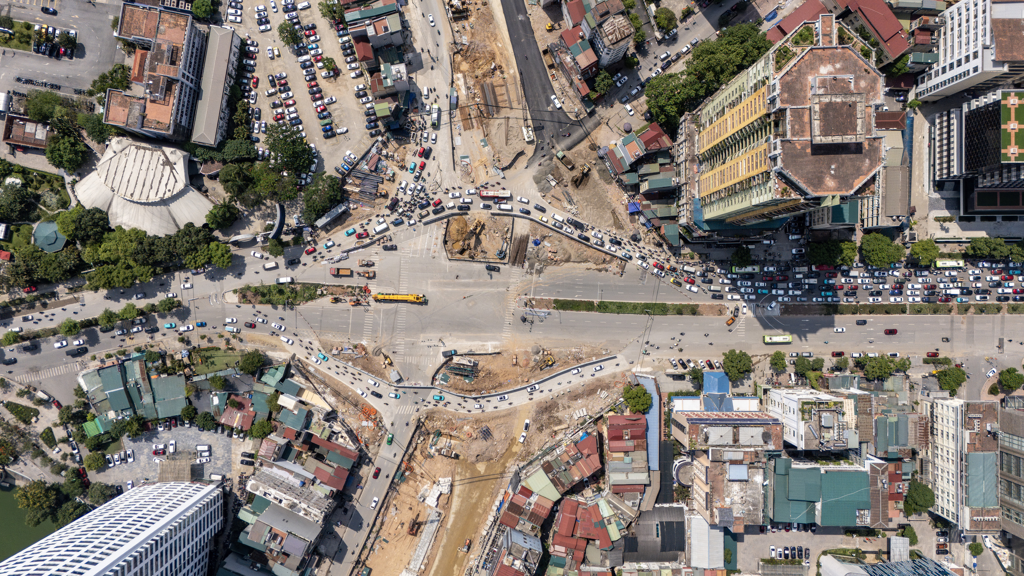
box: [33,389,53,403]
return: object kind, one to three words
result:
vehicle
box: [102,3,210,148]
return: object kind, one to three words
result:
building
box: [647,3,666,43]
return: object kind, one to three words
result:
building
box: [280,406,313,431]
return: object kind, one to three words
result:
house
